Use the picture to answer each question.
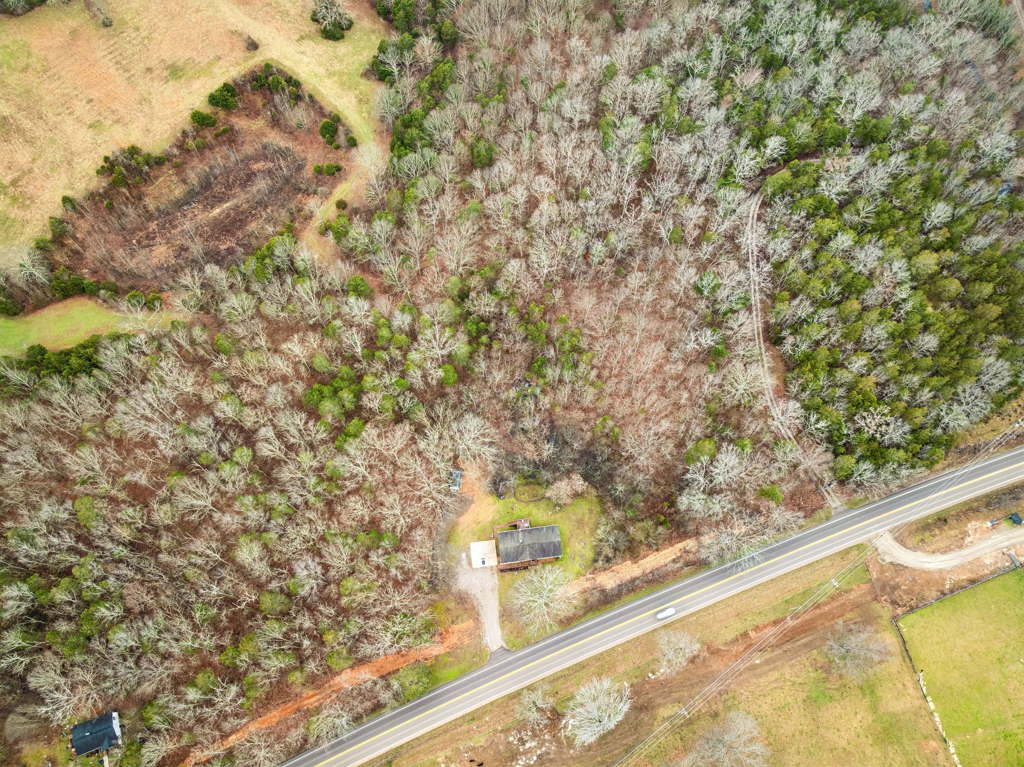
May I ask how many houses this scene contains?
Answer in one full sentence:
I count 2 houses.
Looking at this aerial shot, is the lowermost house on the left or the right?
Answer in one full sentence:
The lowermost house sits on the left side.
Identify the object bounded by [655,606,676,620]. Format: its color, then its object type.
white car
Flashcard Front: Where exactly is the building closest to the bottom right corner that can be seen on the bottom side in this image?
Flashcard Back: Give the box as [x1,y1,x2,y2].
[497,518,563,566]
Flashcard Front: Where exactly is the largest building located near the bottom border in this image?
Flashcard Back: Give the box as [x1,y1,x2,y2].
[70,713,126,760]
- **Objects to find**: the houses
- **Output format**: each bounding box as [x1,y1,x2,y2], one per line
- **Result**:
[70,713,126,760]
[497,518,563,566]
